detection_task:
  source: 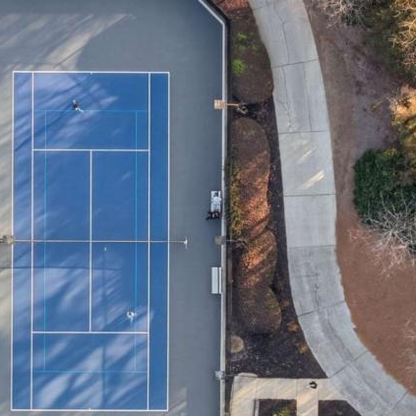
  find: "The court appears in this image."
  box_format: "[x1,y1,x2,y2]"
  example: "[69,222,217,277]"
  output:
[13,71,169,411]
